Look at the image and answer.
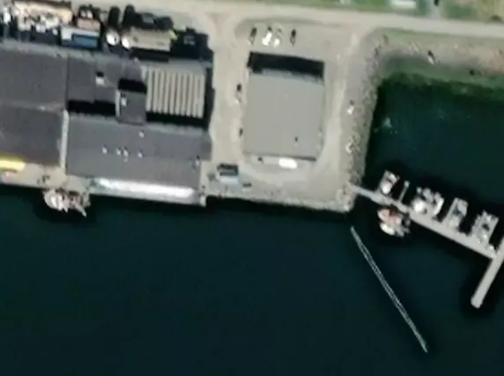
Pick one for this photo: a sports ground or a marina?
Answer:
marina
